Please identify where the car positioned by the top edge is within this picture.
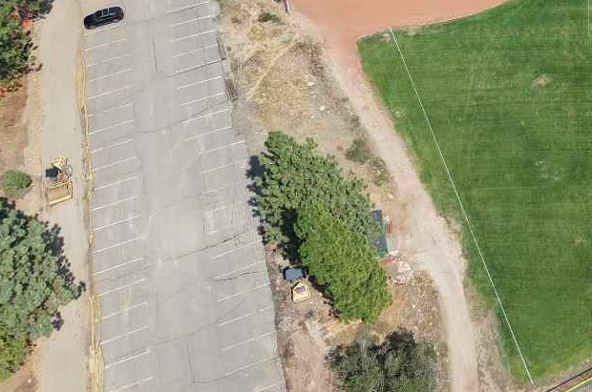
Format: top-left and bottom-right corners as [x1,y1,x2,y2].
[80,2,125,30]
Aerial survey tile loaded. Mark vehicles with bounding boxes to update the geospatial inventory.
[80,2,125,30]
[41,158,72,211]
[279,257,309,304]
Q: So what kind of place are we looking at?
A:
sports ground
